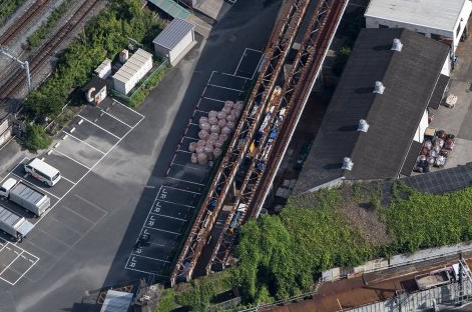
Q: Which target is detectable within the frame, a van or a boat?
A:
van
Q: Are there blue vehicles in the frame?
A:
No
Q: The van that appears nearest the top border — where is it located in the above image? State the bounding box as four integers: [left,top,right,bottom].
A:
[21,153,61,184]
